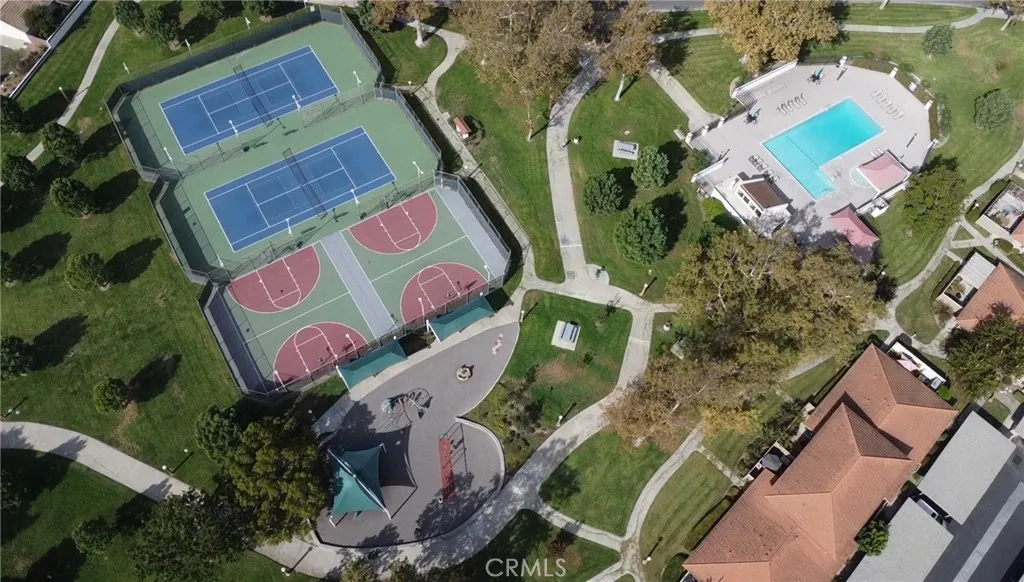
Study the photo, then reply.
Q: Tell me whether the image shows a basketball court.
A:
Yes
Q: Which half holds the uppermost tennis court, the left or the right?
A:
left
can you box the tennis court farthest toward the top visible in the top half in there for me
[117,23,376,183]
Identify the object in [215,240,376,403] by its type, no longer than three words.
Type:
basketball court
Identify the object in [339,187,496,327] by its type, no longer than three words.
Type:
basketball court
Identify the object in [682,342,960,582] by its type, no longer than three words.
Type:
house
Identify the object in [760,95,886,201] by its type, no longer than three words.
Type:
swimming pool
